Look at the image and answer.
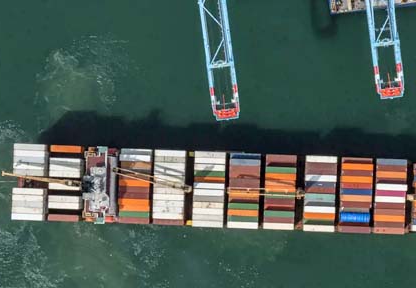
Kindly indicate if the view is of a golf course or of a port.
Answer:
port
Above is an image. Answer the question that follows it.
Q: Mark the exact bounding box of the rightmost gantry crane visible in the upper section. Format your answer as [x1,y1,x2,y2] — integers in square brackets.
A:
[364,0,404,100]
